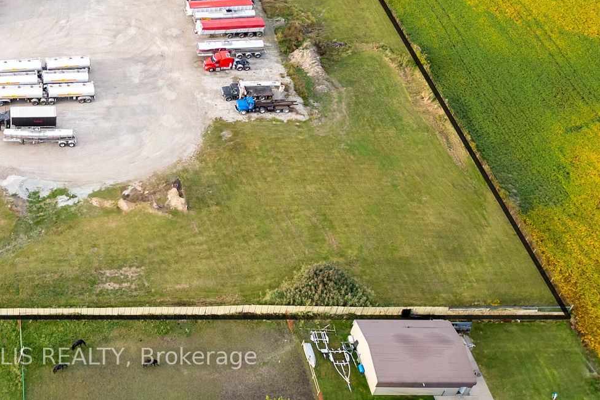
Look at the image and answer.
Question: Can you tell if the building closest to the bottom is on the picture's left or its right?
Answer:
right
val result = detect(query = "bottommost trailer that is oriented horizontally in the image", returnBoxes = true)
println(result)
[3,126,78,146]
